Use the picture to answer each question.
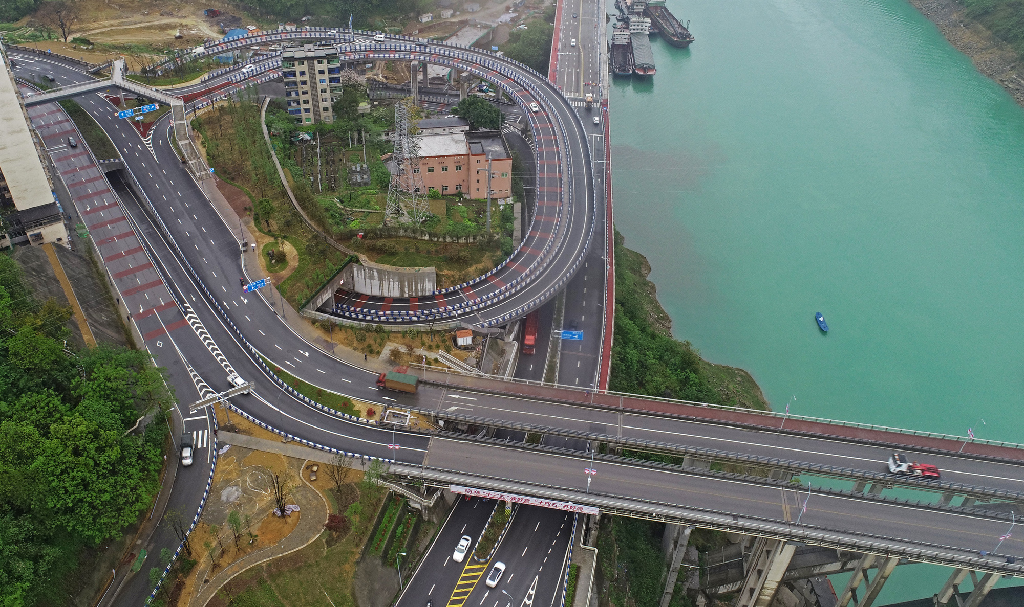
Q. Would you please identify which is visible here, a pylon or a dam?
pylon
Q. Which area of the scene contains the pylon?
top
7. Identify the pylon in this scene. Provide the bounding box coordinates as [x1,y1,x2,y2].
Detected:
[384,95,436,220]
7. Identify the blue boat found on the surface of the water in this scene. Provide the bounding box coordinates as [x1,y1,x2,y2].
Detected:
[815,308,831,332]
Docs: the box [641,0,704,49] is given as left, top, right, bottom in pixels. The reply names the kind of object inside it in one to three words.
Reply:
vessel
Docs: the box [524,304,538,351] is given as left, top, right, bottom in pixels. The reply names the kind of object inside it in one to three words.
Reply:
vehicle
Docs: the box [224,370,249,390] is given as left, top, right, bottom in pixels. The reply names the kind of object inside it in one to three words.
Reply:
vehicle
